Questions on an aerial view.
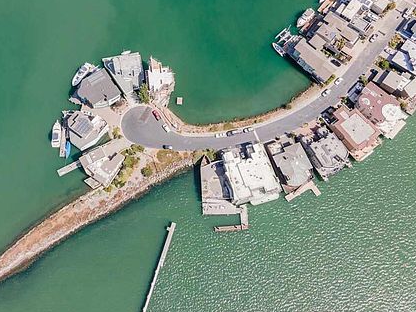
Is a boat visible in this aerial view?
Yes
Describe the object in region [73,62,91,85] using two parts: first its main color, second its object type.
white boat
